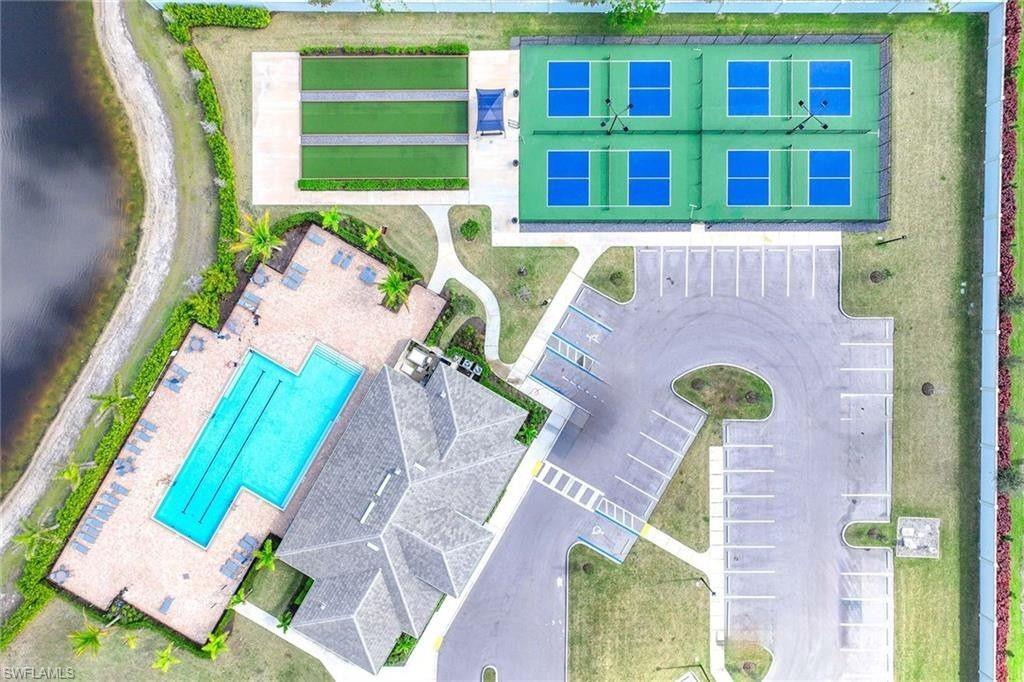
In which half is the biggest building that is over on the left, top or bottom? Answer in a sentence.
You can find the biggest building that is over on the left in the bottom half.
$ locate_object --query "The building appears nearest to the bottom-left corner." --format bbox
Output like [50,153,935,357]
[276,362,529,675]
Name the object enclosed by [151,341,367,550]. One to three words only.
swimming pool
